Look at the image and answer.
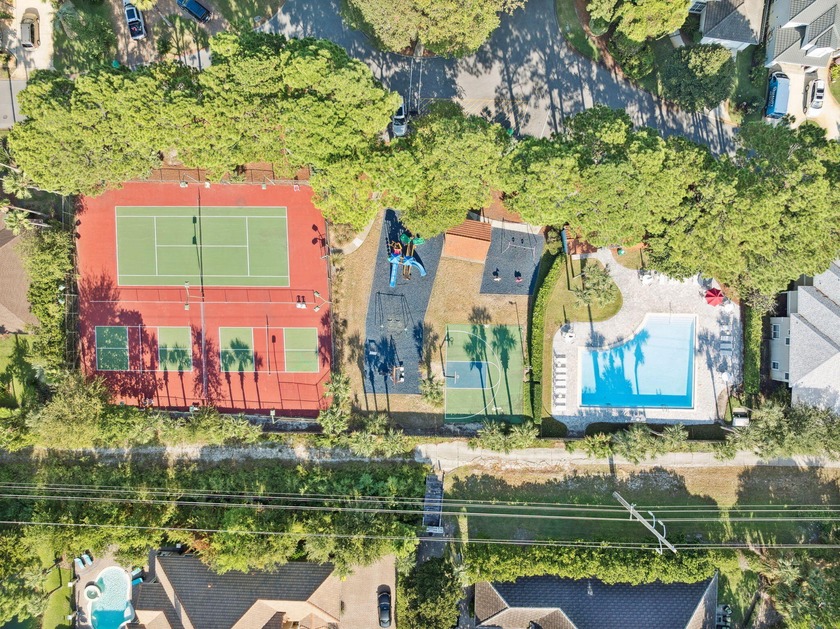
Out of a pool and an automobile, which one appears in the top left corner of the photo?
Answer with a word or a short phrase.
automobile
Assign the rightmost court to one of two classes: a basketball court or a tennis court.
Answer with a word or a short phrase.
basketball court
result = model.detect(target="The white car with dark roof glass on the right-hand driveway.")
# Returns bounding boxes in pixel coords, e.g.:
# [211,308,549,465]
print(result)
[804,78,827,115]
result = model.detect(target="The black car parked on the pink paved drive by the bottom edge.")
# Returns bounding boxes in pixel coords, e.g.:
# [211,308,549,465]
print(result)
[377,590,394,627]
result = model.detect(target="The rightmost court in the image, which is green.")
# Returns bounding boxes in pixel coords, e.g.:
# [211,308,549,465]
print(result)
[445,324,524,423]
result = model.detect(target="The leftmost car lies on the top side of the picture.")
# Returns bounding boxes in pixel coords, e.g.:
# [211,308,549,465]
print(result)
[18,11,40,47]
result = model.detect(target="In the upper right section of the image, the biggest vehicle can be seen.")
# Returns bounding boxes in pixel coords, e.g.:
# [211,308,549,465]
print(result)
[764,72,792,120]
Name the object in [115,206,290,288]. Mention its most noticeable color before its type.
green tennis court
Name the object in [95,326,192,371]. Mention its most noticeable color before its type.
green sports court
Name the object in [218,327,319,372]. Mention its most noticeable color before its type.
green sports court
